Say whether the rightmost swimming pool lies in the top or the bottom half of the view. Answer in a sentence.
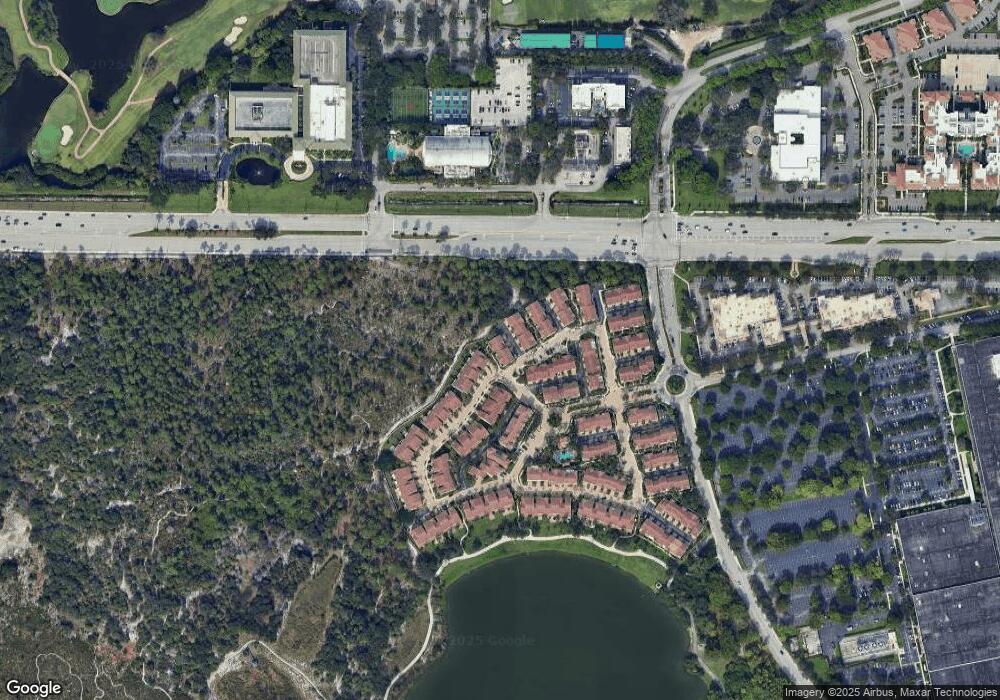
Seen from above, the rightmost swimming pool lies in the top half of the view.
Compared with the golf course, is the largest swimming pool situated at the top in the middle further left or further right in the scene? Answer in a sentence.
Looking at the photo, the largest swimming pool situated at the top in the middle lies to the right of the golf course.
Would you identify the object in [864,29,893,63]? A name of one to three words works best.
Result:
house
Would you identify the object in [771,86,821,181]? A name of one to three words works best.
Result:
building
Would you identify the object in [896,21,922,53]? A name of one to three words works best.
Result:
house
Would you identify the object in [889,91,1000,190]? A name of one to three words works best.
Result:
building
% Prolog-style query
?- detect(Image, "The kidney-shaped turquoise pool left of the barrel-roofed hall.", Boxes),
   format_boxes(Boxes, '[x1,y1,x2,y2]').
[384,139,424,166]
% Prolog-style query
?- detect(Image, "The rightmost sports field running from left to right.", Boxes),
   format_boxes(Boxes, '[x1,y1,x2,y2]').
[492,0,769,27]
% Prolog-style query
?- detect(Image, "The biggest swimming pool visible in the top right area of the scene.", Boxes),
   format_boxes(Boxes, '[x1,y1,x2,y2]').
[952,138,979,160]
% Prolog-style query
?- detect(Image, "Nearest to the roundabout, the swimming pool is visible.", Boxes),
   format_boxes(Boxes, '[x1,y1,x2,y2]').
[554,447,576,462]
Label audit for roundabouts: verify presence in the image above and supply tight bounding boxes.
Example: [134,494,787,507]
[658,365,692,400]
